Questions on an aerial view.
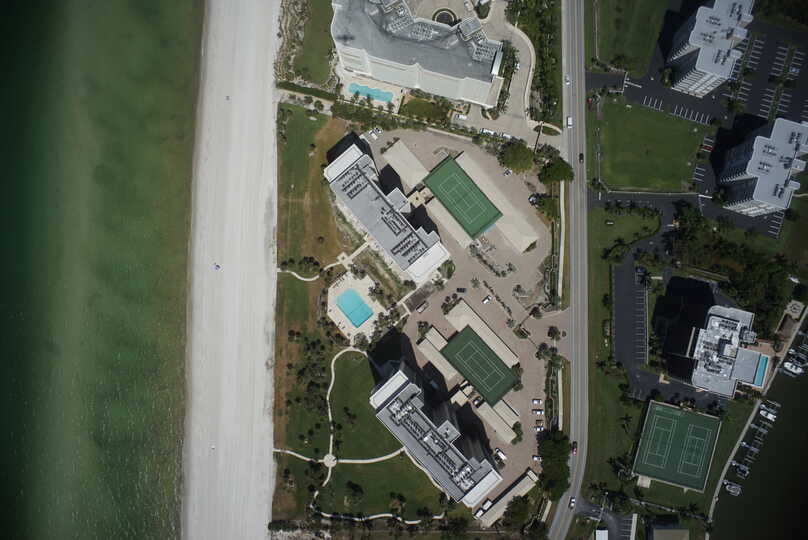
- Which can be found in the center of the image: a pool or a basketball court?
pool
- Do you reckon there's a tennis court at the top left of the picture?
No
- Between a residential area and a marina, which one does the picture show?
marina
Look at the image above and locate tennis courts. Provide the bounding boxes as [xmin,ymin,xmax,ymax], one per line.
[441,325,519,407]
[423,155,503,238]
[631,399,723,493]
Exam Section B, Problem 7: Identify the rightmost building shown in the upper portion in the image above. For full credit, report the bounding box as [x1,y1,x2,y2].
[720,118,808,218]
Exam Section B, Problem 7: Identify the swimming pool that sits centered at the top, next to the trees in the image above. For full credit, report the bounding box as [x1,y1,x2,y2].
[344,72,416,114]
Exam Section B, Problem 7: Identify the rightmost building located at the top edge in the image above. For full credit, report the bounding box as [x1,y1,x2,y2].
[666,0,754,96]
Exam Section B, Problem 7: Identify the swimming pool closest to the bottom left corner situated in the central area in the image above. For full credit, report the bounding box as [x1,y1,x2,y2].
[327,272,387,345]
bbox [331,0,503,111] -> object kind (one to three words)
building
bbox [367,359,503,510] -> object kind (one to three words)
building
